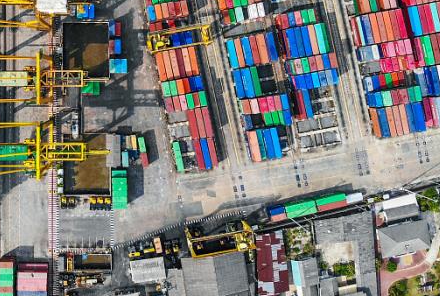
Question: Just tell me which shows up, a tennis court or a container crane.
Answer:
container crane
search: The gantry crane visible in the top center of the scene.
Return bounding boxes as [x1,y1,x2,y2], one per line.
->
[143,23,214,60]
